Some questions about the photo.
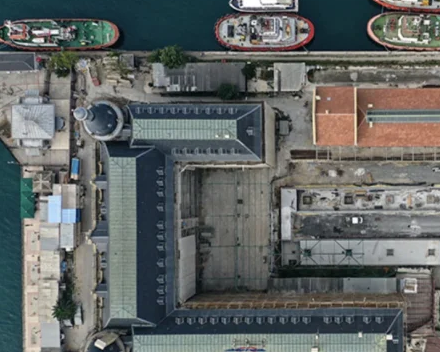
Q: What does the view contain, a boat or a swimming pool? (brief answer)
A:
boat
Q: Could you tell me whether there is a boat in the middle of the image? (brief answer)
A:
No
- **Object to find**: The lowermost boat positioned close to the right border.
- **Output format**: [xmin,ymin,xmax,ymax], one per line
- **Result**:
[367,12,440,51]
